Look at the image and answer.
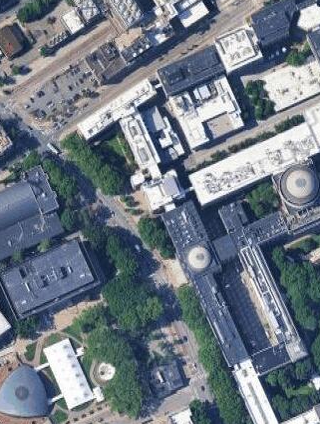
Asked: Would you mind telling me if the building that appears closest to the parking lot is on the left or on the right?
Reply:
left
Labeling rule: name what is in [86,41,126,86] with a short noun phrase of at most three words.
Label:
building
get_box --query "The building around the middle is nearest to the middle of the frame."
[131,169,185,212]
